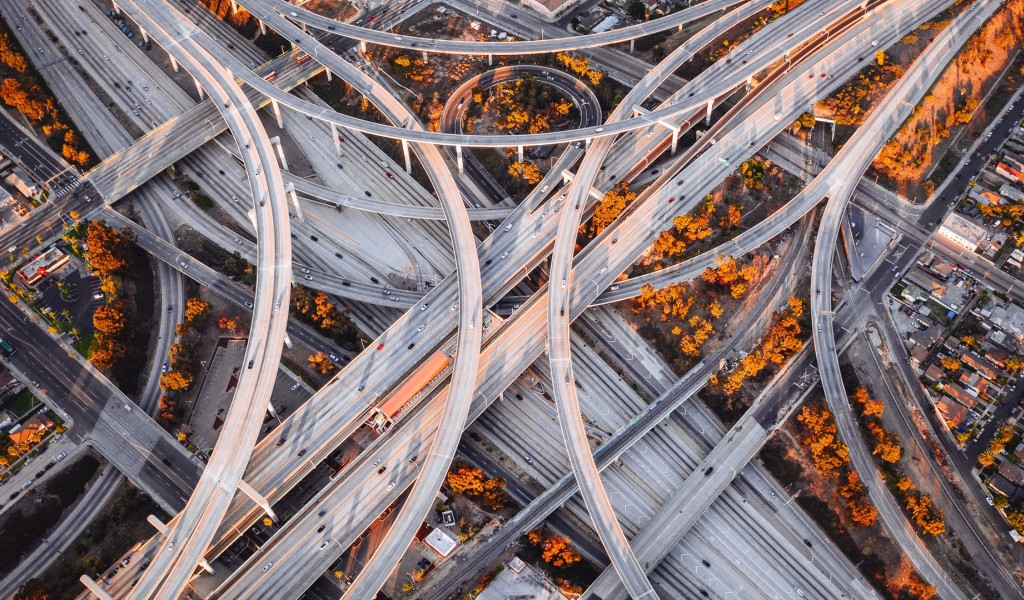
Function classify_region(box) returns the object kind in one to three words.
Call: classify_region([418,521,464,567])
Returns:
house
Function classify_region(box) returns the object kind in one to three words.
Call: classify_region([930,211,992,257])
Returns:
building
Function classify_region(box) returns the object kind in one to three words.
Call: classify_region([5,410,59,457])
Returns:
house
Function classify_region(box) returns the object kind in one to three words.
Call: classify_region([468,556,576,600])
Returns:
building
